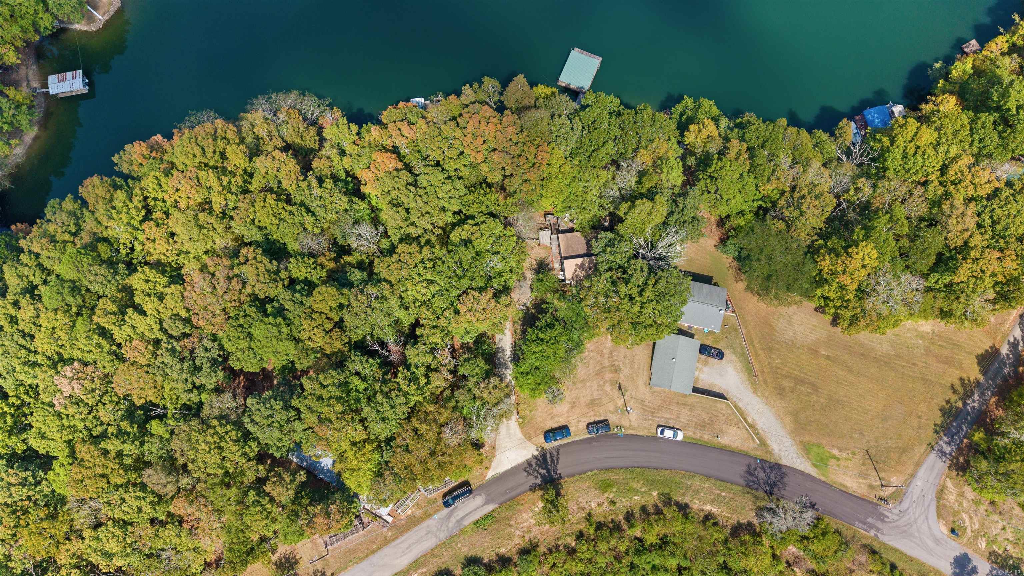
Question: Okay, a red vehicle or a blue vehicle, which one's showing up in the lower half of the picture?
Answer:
blue vehicle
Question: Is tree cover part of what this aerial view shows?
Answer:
Yes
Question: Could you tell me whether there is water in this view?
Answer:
Yes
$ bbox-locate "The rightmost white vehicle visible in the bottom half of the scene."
[655,426,683,440]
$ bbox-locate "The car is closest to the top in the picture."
[698,345,725,359]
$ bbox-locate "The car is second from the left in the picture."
[545,428,572,444]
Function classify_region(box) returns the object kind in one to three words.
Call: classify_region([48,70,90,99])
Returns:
pier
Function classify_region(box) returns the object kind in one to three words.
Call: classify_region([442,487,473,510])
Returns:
car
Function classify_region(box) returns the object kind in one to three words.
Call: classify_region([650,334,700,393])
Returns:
building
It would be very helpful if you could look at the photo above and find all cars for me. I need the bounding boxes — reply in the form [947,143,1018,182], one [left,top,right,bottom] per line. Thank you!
[588,423,612,436]
[545,428,572,444]
[698,345,725,359]
[655,426,683,440]
[442,487,473,510]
